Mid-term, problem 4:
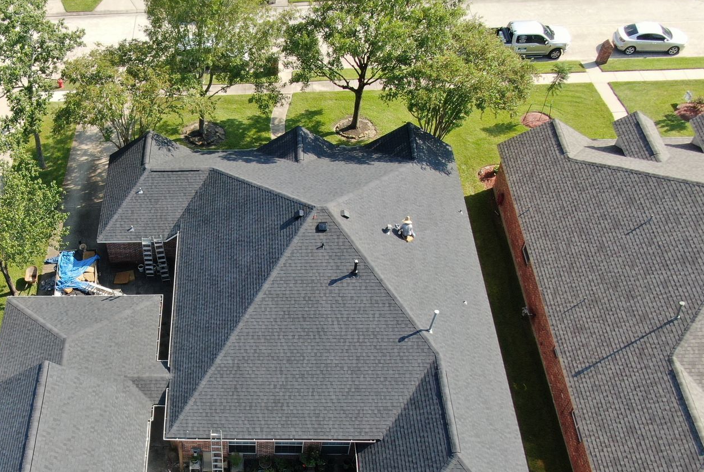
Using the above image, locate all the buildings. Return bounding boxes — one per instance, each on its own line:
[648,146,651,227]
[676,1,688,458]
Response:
[492,110,704,472]
[97,121,529,472]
